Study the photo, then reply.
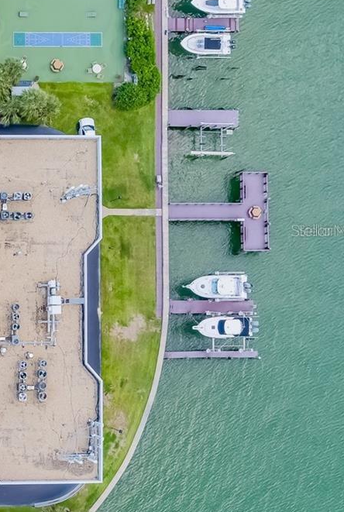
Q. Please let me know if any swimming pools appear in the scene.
No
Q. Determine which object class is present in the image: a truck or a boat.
boat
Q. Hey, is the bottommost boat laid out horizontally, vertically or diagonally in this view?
horizontally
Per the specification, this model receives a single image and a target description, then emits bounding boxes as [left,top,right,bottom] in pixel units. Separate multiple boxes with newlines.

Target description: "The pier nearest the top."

[168,15,239,35]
